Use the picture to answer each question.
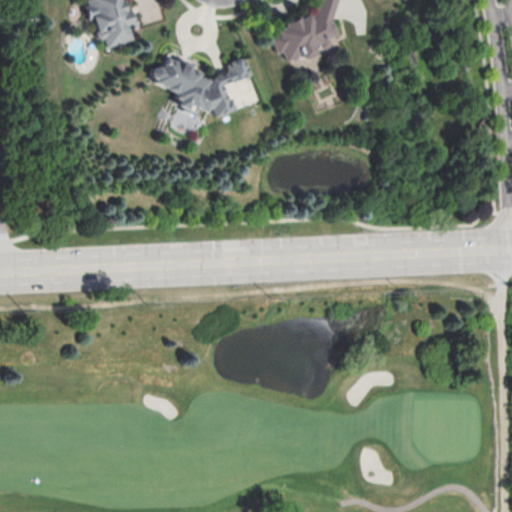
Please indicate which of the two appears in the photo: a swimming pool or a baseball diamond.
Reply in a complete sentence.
It is a swimming pool that can be seen here.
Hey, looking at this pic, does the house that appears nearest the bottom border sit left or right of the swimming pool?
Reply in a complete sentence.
The house that appears nearest the bottom border can be seen on the right of the swimming pool.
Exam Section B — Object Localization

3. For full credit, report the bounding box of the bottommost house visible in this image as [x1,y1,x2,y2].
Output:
[148,56,255,118]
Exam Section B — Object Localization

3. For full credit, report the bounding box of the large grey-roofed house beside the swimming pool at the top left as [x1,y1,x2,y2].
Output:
[84,0,140,51]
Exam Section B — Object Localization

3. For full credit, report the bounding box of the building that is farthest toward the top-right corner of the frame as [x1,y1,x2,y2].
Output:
[268,0,342,66]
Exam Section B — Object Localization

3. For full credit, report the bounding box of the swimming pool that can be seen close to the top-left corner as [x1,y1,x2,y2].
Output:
[64,34,99,74]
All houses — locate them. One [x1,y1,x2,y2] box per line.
[84,0,140,51]
[148,56,255,118]
[268,0,342,66]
